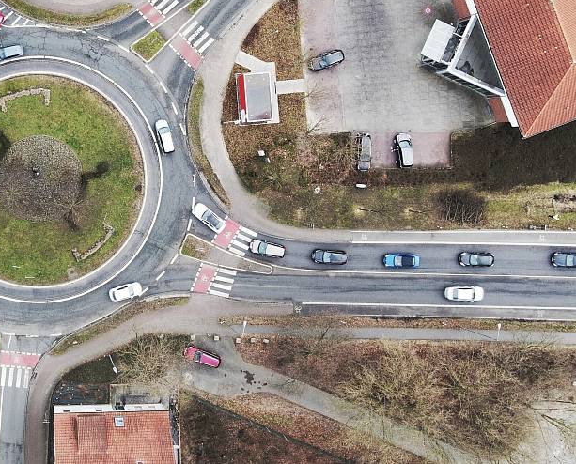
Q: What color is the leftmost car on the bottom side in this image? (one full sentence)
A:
The leftmost car on the bottom side is white.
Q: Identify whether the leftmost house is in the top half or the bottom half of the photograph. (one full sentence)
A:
The leftmost house is in the bottom half of the image.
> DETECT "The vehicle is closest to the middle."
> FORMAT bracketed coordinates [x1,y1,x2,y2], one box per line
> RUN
[248,239,285,257]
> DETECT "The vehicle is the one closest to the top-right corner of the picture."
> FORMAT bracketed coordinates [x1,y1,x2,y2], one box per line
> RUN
[393,134,413,167]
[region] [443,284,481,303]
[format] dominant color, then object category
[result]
white car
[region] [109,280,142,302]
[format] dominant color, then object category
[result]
white car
